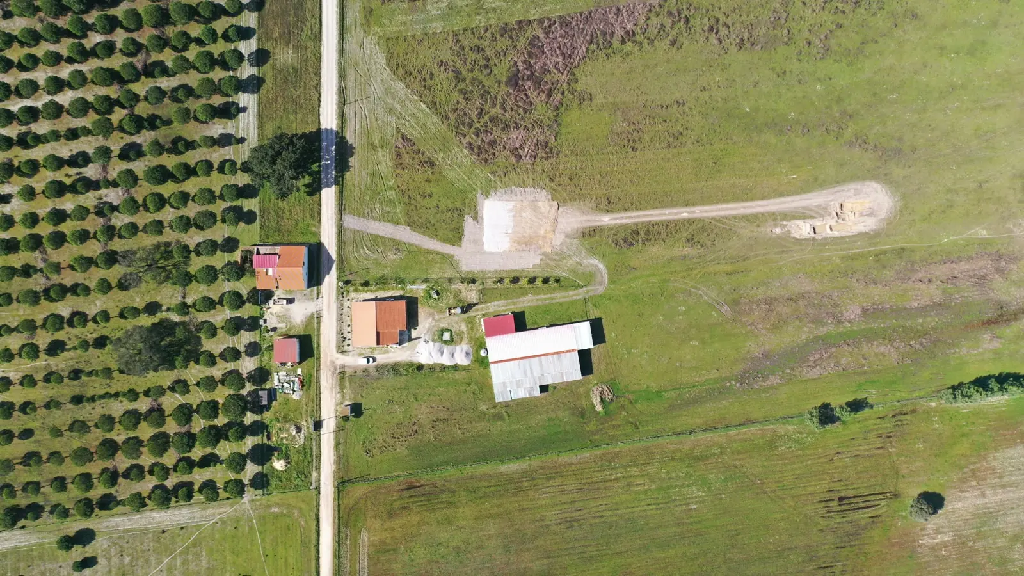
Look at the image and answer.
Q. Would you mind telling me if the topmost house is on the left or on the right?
left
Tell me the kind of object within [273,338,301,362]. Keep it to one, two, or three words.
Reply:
shed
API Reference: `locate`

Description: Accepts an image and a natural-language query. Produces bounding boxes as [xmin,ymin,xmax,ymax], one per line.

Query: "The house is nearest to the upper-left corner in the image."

[253,246,308,289]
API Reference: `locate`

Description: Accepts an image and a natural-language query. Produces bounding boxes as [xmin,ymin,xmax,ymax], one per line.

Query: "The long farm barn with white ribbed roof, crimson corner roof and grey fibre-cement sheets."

[480,313,593,402]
